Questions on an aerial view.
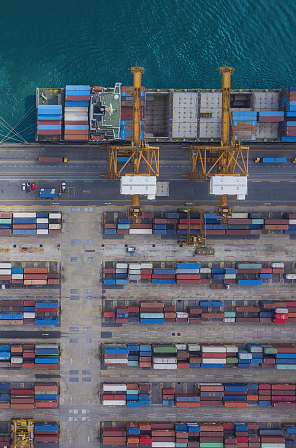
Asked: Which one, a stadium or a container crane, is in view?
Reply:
container crane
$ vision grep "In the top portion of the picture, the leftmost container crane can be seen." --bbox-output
[99,67,163,223]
